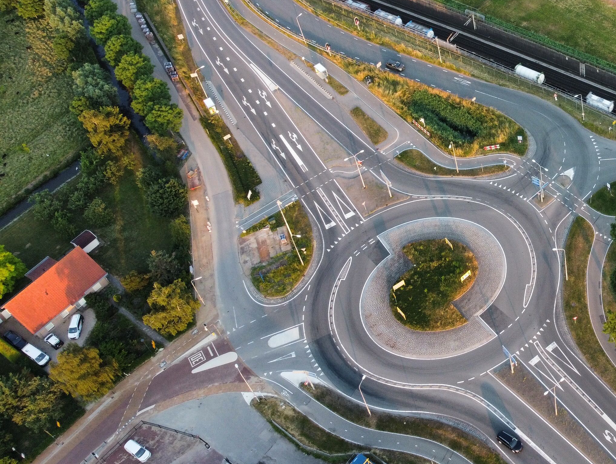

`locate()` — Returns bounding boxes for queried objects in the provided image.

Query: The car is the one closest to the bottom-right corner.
[494,428,525,455]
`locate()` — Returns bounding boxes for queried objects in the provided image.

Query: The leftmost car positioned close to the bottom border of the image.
[124,439,150,463]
